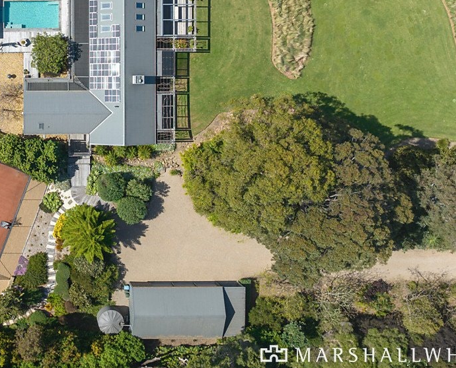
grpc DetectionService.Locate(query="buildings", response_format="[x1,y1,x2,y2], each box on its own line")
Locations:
[129,281,246,339]
[24,0,157,157]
